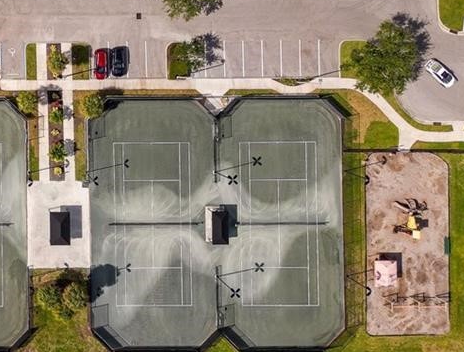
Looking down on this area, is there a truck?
No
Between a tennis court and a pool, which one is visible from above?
tennis court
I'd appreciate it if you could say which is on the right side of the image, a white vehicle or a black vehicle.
white vehicle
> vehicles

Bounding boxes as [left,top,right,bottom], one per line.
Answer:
[112,44,128,78]
[95,46,110,80]
[426,59,460,88]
